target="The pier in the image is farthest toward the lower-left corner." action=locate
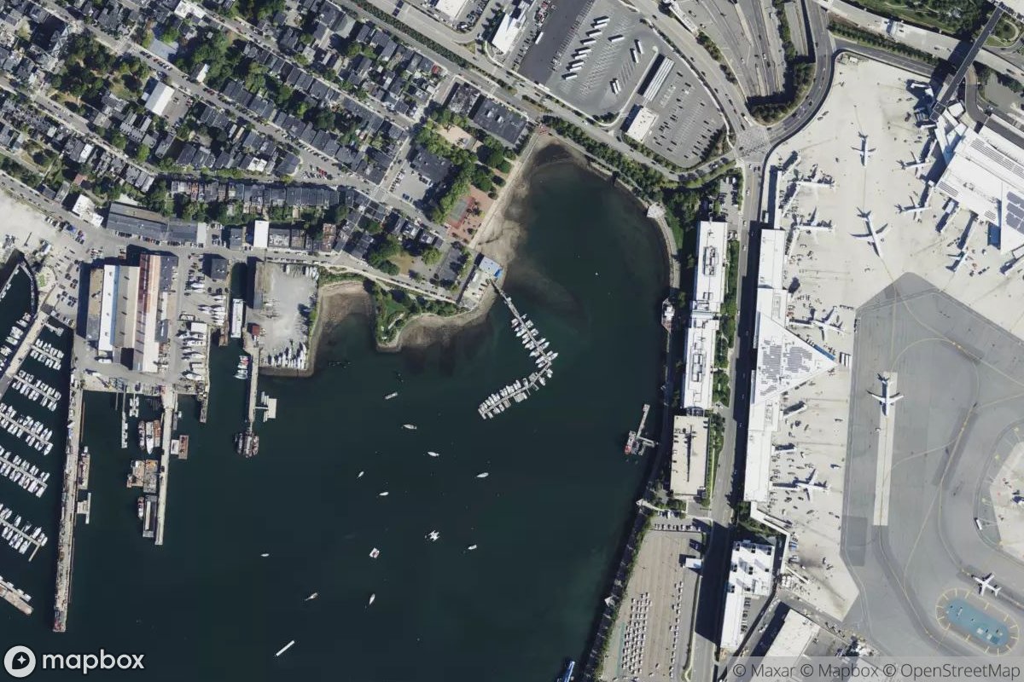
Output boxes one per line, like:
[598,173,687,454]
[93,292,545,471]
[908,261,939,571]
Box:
[0,587,34,614]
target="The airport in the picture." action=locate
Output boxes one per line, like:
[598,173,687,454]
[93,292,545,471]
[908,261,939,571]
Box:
[752,53,1024,682]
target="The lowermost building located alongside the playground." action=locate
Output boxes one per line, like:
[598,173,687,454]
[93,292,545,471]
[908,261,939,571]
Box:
[410,145,452,186]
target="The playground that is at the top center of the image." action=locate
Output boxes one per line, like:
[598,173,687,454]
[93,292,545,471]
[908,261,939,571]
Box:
[442,124,480,153]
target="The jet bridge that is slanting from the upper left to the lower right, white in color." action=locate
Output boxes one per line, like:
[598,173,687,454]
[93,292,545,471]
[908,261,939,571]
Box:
[784,564,810,585]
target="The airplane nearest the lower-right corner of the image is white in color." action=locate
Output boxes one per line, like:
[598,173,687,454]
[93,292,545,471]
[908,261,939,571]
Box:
[972,573,1004,598]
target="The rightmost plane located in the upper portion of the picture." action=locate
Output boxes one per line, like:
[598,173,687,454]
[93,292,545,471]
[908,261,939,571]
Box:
[951,249,970,275]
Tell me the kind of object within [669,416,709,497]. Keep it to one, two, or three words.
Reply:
building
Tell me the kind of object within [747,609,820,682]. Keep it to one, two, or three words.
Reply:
hangar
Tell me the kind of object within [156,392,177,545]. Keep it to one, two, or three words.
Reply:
pier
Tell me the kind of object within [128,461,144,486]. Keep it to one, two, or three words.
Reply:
ship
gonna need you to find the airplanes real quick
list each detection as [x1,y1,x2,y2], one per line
[795,472,833,502]
[851,132,879,168]
[797,166,839,202]
[896,194,932,224]
[951,249,970,275]
[810,311,849,345]
[897,151,933,180]
[871,373,904,417]
[795,209,839,246]
[851,206,894,257]
[972,573,1004,598]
